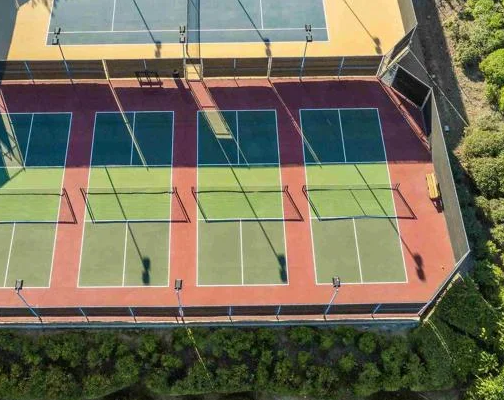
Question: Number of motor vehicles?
zero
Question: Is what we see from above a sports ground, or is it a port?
sports ground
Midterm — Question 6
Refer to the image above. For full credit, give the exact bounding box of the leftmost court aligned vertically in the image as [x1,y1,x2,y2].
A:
[0,113,72,288]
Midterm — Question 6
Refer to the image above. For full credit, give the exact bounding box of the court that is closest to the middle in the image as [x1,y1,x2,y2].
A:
[197,110,289,285]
